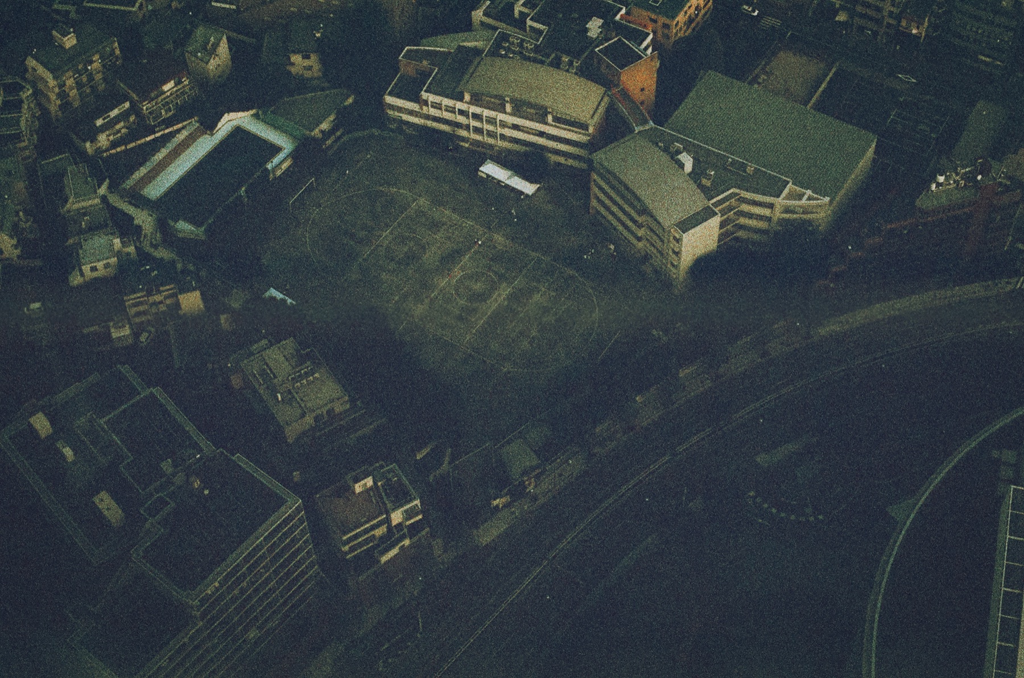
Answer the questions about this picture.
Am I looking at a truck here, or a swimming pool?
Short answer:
swimming pool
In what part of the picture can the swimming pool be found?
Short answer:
top left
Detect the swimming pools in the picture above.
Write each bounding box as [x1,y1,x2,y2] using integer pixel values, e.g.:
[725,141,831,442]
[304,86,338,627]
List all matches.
[122,108,310,256]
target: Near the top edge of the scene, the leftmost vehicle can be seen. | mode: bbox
[740,4,760,17]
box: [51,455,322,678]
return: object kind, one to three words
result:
building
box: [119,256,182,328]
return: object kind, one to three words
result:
house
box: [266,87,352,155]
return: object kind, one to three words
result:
building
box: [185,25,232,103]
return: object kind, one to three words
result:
house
